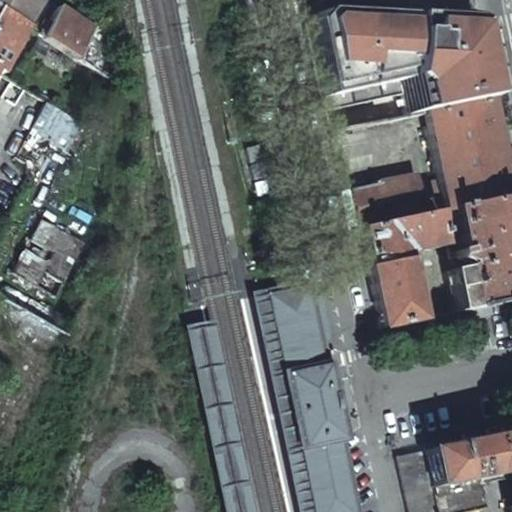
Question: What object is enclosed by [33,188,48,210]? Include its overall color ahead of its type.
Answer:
white vehicle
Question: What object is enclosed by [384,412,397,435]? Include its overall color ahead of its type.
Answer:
white vehicle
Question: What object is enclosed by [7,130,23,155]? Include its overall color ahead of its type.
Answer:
gray car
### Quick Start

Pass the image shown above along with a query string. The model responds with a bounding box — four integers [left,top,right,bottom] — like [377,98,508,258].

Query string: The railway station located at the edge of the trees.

[269,284,364,512]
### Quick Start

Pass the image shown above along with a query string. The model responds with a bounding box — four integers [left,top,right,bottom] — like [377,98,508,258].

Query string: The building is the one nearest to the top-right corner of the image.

[423,8,512,107]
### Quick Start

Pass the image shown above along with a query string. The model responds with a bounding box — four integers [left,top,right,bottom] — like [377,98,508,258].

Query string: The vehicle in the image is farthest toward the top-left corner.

[20,106,36,130]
